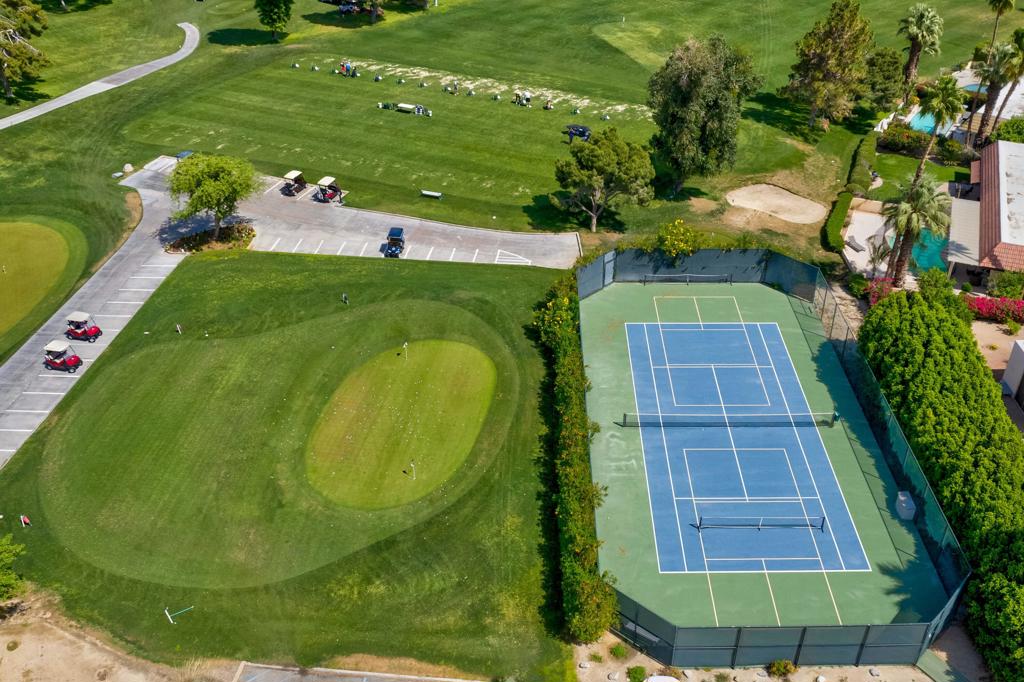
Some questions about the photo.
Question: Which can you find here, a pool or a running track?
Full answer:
Visible in the photo is a pool.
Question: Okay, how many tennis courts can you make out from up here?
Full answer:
The count comes to 1 tennis court.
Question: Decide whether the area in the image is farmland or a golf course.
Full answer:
The picture captures a golf course.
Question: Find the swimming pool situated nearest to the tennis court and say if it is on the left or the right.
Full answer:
The swimming pool situated nearest to the tennis court is on the right side of the image.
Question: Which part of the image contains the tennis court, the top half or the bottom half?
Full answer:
Seen from above, the tennis court lies in the bottom half of the view.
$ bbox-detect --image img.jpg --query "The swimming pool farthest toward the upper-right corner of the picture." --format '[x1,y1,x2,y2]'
[960,81,988,96]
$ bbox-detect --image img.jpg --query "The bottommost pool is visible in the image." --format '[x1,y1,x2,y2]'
[882,220,948,276]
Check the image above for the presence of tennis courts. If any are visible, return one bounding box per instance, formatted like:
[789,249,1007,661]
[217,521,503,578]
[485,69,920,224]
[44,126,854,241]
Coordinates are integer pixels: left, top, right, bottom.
[583,282,949,667]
